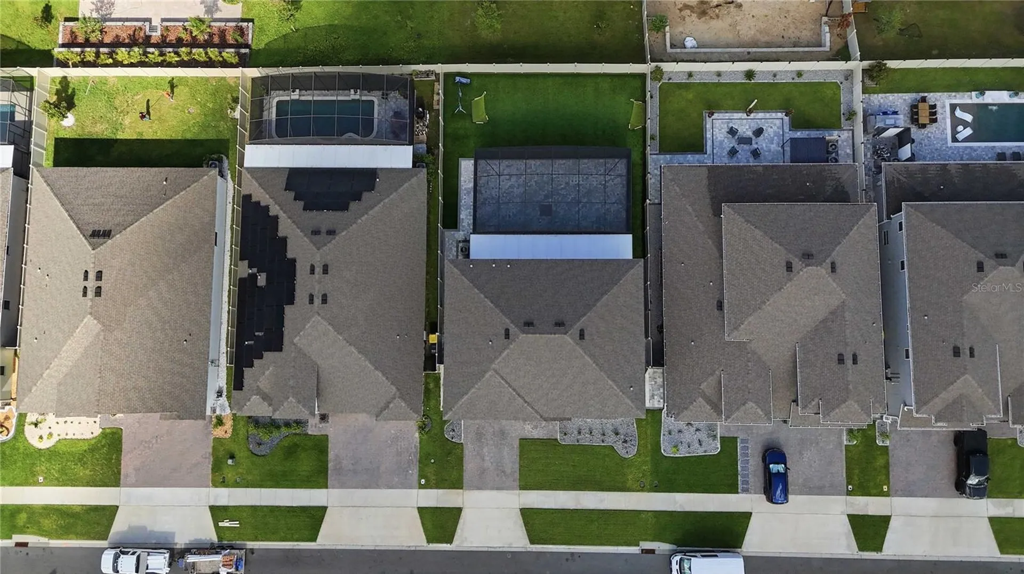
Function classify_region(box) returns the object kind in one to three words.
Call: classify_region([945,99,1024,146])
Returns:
swimming pool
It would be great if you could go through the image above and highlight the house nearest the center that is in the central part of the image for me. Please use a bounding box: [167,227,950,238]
[443,234,646,422]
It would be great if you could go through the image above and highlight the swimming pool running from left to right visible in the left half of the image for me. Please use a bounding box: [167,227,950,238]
[273,96,378,140]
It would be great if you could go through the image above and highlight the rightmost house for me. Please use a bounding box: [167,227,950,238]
[874,161,1024,431]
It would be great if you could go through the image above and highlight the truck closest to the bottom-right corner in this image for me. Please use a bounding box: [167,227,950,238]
[955,428,991,500]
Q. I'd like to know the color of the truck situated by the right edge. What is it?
black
